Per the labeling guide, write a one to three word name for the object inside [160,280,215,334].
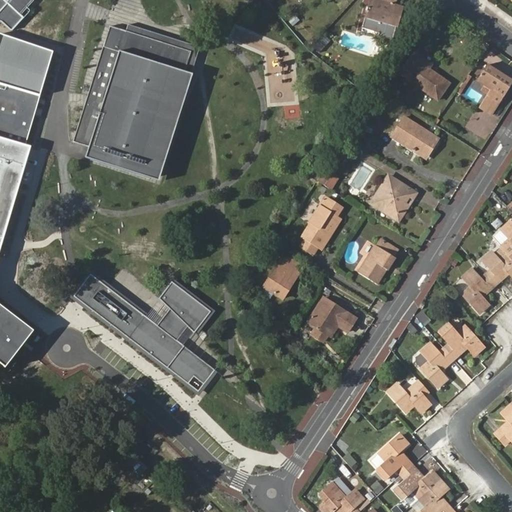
building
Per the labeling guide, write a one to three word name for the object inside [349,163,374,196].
swimming pool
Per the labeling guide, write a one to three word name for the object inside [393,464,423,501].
house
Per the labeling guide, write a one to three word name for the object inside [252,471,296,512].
roundabout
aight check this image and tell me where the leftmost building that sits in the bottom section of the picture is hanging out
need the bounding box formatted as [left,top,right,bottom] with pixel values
[0,303,34,372]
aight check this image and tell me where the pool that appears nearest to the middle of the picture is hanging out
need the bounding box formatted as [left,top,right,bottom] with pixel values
[344,240,360,264]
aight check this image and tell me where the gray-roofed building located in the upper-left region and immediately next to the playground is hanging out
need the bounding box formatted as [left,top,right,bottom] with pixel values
[73,26,197,183]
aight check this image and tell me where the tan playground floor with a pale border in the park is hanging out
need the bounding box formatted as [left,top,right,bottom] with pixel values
[228,25,299,107]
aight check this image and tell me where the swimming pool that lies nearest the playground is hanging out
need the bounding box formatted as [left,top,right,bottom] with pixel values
[340,31,380,56]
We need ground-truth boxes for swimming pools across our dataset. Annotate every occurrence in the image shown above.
[340,31,380,56]
[466,88,484,104]
[344,240,360,264]
[349,163,374,196]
